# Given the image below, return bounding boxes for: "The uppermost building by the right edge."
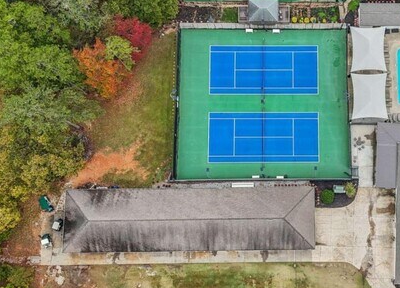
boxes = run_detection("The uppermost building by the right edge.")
[359,3,400,30]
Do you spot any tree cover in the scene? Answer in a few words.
Yes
